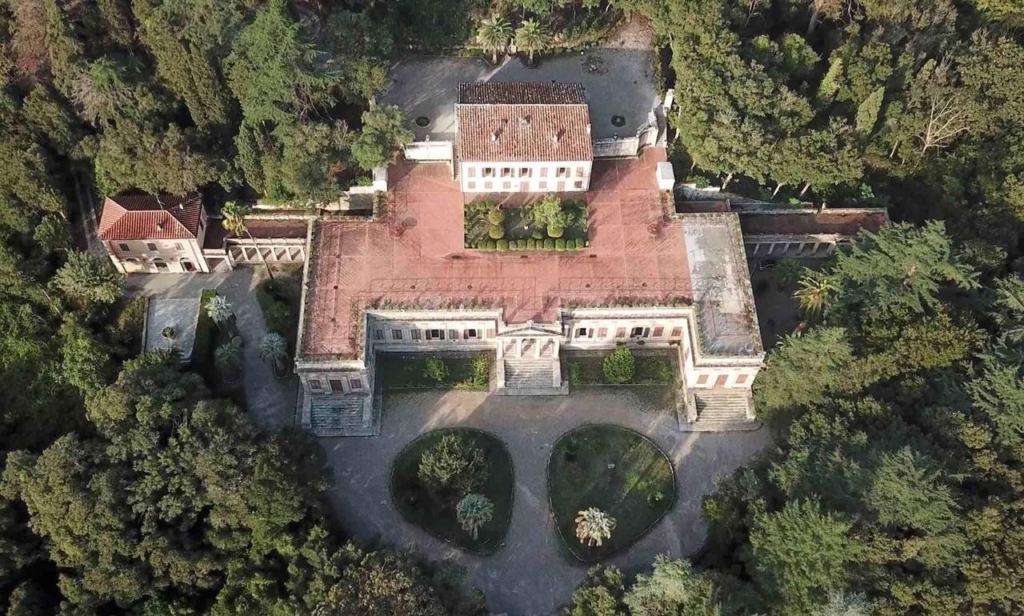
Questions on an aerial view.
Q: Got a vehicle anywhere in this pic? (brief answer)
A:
No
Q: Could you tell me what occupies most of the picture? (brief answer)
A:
trees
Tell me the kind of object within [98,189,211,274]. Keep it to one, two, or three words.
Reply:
house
